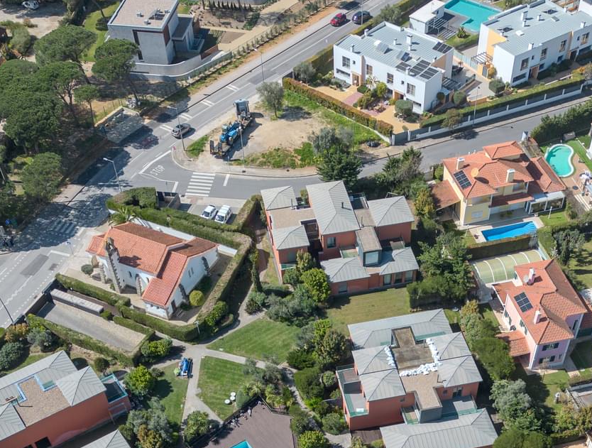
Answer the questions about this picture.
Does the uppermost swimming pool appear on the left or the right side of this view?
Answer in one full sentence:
It is on the right.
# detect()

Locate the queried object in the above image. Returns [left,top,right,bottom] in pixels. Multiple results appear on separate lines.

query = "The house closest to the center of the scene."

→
[261,181,419,297]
